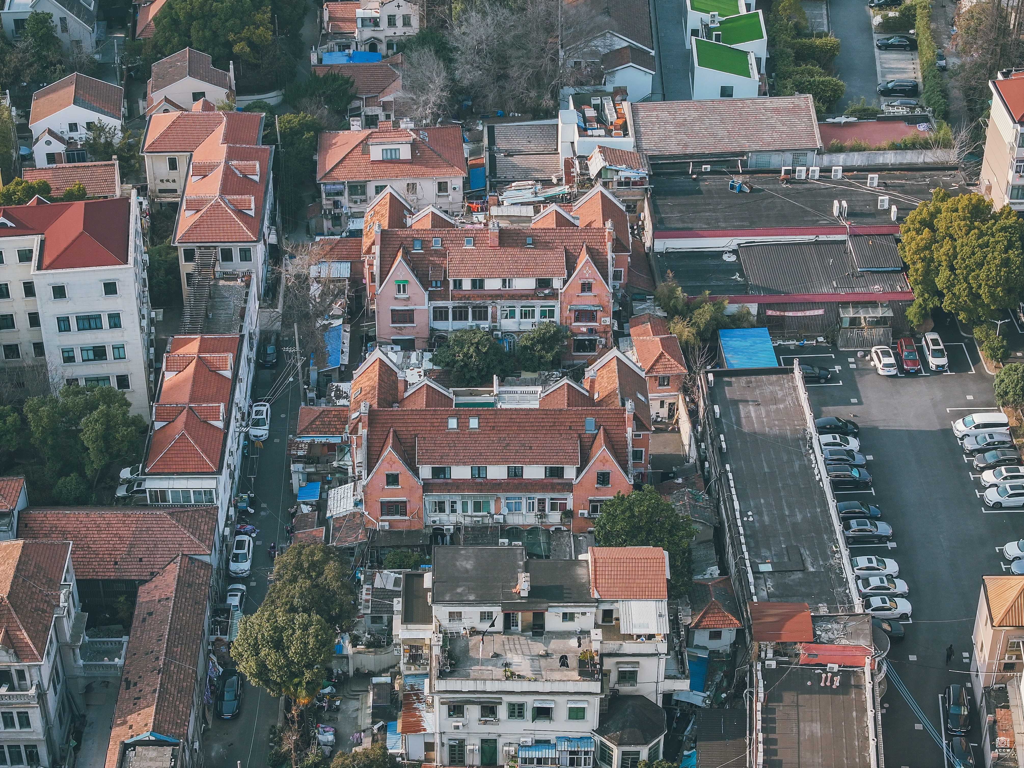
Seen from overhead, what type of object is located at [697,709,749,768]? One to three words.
shed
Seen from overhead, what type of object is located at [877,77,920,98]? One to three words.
car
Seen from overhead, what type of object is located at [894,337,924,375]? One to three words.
car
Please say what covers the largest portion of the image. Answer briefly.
buildings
